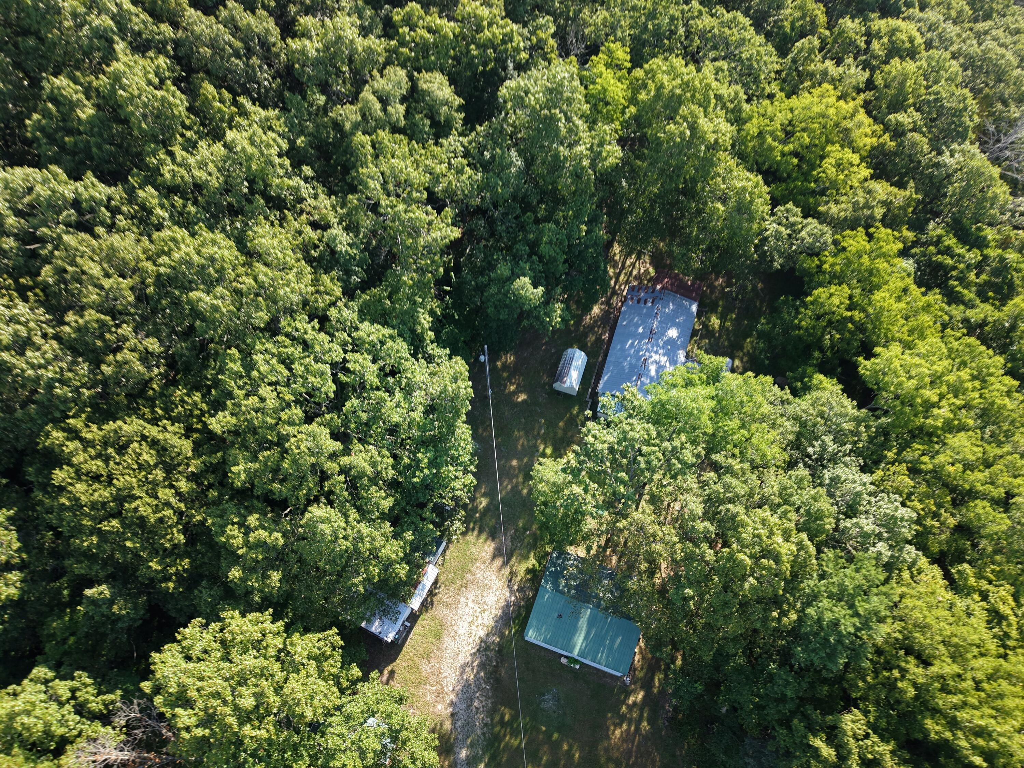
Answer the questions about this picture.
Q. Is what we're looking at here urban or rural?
rural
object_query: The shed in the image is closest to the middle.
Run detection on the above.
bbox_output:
[553,349,588,400]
